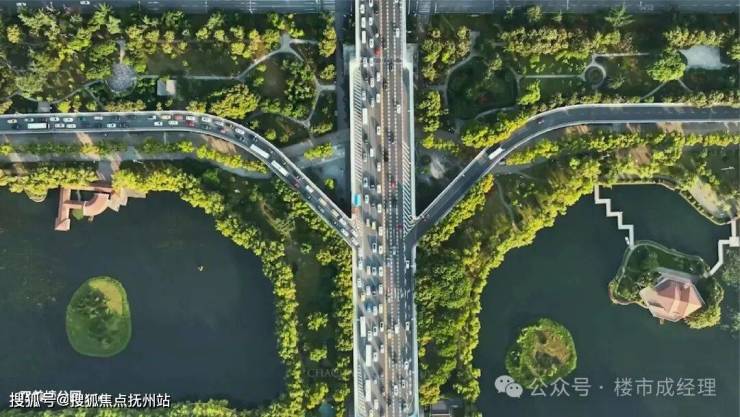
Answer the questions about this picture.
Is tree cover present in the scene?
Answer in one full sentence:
Yes, there is tree cover in the image.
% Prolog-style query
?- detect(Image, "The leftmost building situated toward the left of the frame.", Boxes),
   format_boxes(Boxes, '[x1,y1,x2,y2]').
[53,179,113,232]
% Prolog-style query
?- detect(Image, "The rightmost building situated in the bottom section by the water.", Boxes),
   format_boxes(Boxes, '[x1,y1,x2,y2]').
[639,268,706,325]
